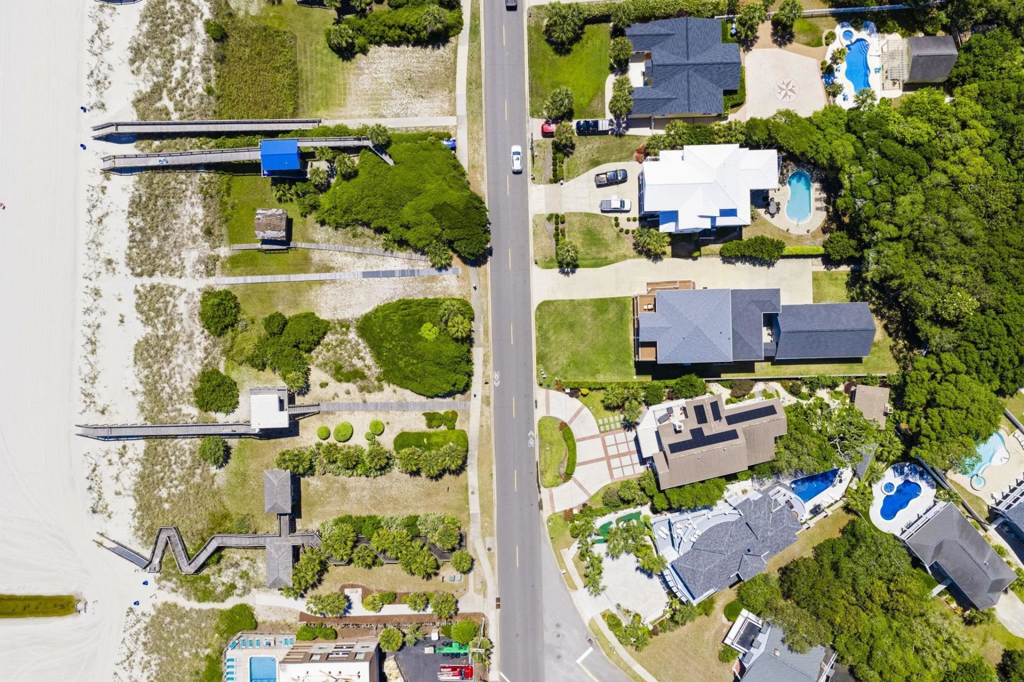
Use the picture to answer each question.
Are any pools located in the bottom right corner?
Yes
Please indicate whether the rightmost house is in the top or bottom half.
bottom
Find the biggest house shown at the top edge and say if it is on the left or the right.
right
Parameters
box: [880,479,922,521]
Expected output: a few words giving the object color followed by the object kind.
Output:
blue swimming pool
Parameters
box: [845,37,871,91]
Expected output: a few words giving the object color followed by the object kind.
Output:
blue swimming pool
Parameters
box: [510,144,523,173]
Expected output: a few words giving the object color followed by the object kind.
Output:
white vehicle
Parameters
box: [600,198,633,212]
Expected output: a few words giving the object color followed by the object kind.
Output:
white vehicle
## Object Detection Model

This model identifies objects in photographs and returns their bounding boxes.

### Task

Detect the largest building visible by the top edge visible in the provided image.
[626,17,740,123]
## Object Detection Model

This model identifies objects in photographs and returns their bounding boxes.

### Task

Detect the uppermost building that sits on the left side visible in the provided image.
[260,138,309,180]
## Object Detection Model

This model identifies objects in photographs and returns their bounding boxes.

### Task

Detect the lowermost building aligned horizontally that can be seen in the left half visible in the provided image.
[277,636,380,682]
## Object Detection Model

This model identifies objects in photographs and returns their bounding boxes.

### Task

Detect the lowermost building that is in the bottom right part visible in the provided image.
[715,598,825,682]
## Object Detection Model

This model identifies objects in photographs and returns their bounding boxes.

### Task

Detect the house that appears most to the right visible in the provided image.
[978,470,1024,552]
